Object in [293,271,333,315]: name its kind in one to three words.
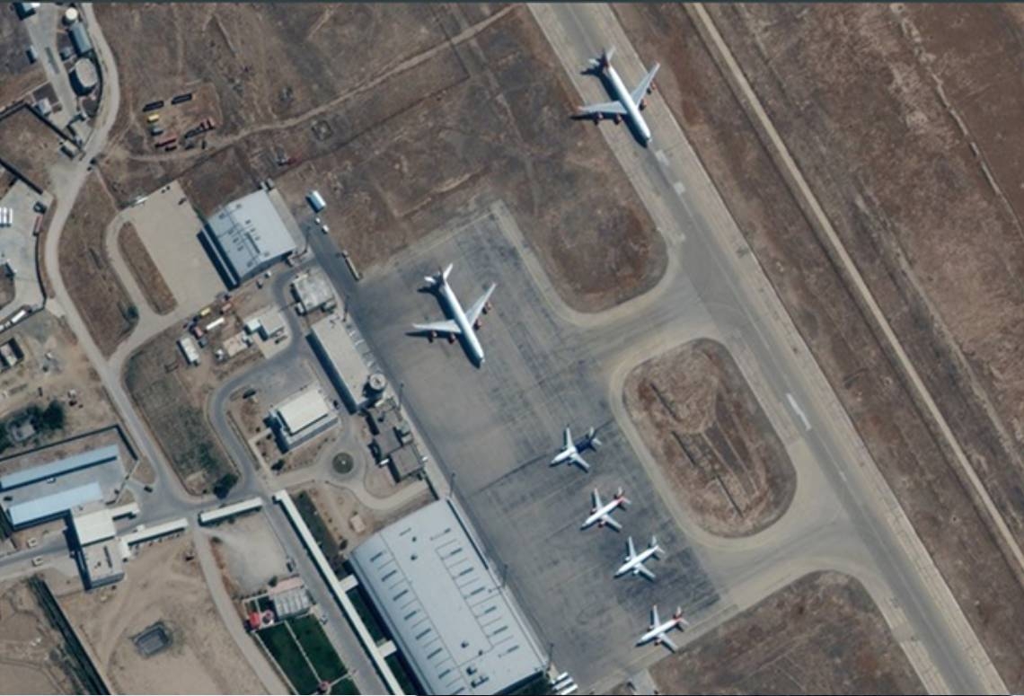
building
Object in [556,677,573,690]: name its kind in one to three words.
vehicle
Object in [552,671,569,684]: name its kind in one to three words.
vehicle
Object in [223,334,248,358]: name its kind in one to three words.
shed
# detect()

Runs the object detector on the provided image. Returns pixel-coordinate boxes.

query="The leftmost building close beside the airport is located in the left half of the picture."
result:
[201,190,303,286]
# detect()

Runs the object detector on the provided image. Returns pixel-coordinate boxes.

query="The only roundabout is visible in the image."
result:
[322,443,364,482]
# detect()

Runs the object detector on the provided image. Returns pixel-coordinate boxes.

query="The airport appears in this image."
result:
[284,0,1008,696]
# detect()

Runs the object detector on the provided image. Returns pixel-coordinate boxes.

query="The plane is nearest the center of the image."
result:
[413,268,499,365]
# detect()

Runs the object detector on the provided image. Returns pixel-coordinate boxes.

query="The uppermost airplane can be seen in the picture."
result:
[580,49,664,143]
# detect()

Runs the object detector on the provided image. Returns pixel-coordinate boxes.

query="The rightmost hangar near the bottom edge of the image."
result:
[351,498,546,696]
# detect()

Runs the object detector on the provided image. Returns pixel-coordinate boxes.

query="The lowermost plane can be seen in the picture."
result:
[635,606,688,648]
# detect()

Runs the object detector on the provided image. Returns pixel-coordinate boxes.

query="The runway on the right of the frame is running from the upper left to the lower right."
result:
[527,0,1008,696]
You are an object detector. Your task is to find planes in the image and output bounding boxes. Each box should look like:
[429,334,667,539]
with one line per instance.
[580,49,664,143]
[613,536,664,577]
[549,427,600,468]
[635,606,688,648]
[580,488,631,528]
[413,268,499,365]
